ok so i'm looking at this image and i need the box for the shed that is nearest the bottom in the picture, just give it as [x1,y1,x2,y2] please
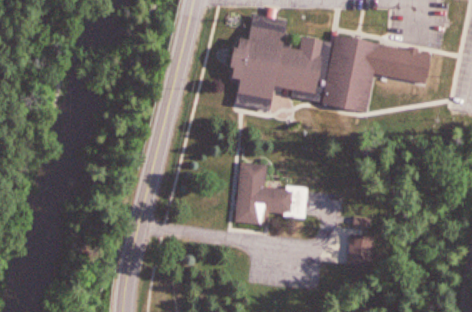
[348,237,374,262]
